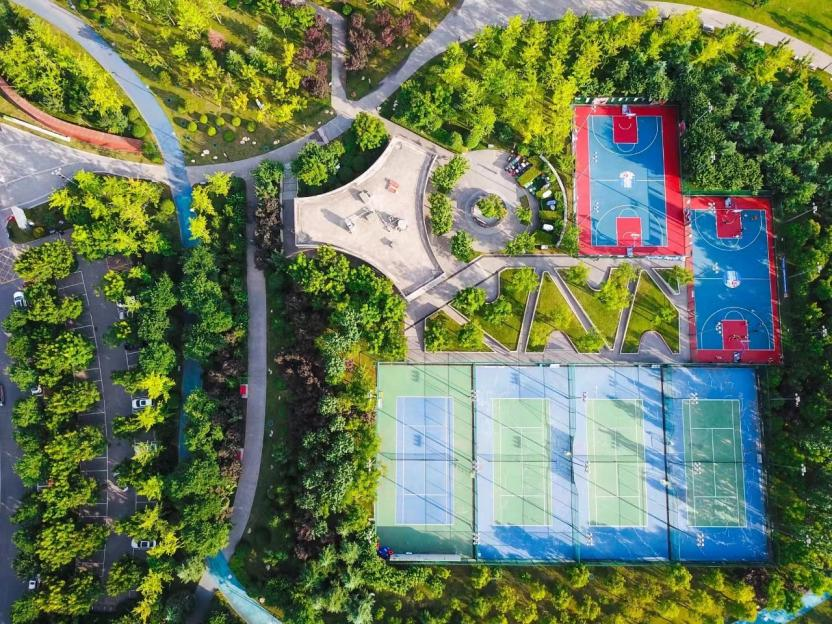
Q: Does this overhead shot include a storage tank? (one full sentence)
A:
No, there isn't any storage tank down there.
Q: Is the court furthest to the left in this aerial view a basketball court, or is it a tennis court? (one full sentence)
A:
From above, the court furthest to the left can be identified as a tennis court.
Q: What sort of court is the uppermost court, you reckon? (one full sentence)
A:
The uppermost court appears to be a basketball court.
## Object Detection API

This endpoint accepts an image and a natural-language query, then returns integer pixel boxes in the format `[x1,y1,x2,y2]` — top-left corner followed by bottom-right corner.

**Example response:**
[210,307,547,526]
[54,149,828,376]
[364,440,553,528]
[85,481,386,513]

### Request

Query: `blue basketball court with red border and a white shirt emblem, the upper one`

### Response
[574,106,686,256]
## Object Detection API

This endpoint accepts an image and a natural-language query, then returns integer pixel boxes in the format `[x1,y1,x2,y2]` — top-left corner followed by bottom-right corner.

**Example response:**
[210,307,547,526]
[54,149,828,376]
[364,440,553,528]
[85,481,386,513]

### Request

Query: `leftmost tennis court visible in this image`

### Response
[375,366,473,561]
